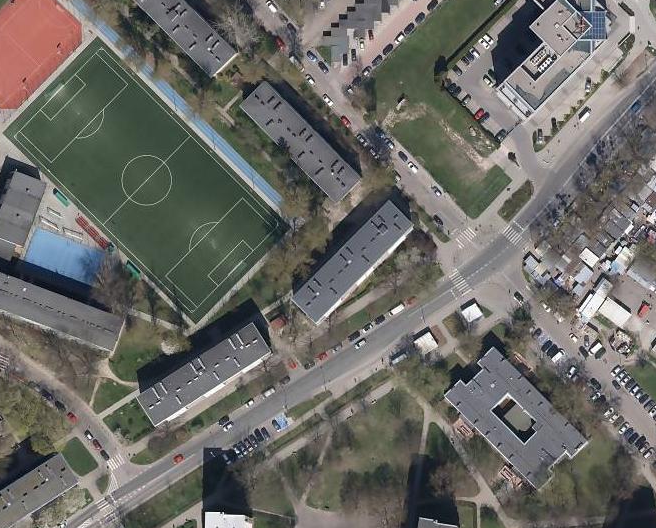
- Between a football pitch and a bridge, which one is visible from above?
football pitch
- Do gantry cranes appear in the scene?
No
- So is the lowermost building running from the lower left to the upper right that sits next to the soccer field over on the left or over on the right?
left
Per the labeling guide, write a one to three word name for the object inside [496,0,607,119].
building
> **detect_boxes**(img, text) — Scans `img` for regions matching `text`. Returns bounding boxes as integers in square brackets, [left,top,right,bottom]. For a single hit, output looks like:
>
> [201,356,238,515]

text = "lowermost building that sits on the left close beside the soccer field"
[136,323,271,429]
